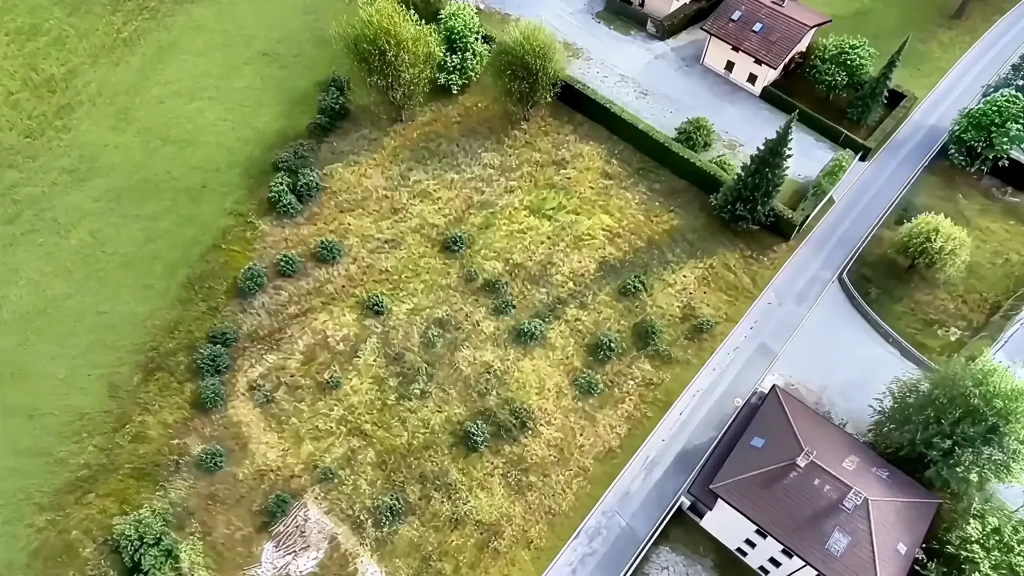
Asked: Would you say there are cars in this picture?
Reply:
No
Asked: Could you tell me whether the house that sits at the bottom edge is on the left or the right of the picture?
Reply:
right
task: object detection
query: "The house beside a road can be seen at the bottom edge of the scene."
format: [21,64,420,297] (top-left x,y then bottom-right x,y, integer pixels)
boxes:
[702,386,948,576]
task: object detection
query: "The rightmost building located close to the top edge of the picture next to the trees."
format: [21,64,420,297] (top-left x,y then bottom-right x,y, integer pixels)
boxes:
[701,0,826,95]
